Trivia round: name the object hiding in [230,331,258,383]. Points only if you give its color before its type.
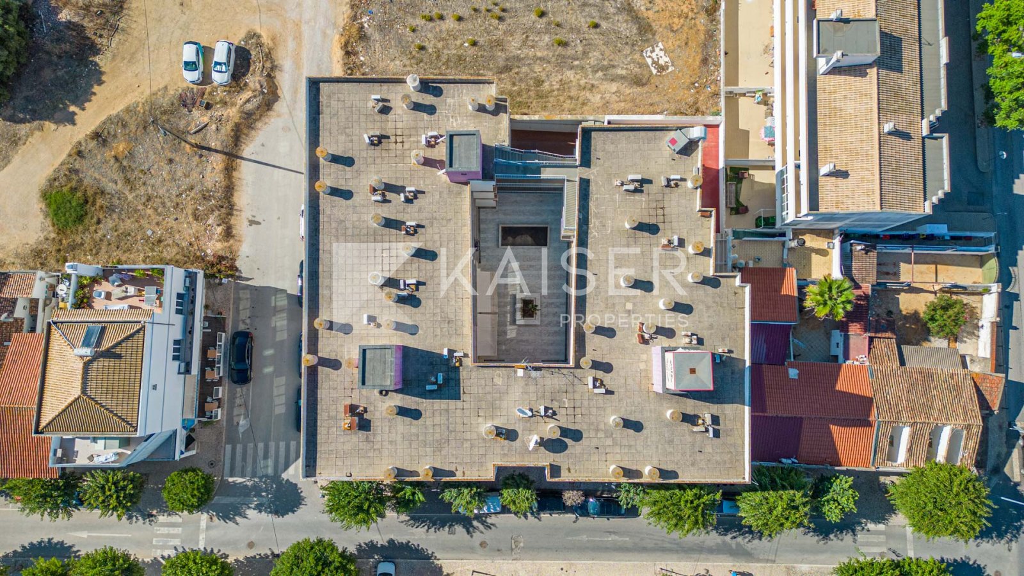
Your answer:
black car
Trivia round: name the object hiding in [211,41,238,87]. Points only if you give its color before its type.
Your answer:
white car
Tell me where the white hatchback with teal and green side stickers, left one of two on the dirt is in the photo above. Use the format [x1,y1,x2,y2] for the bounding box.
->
[182,41,209,86]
